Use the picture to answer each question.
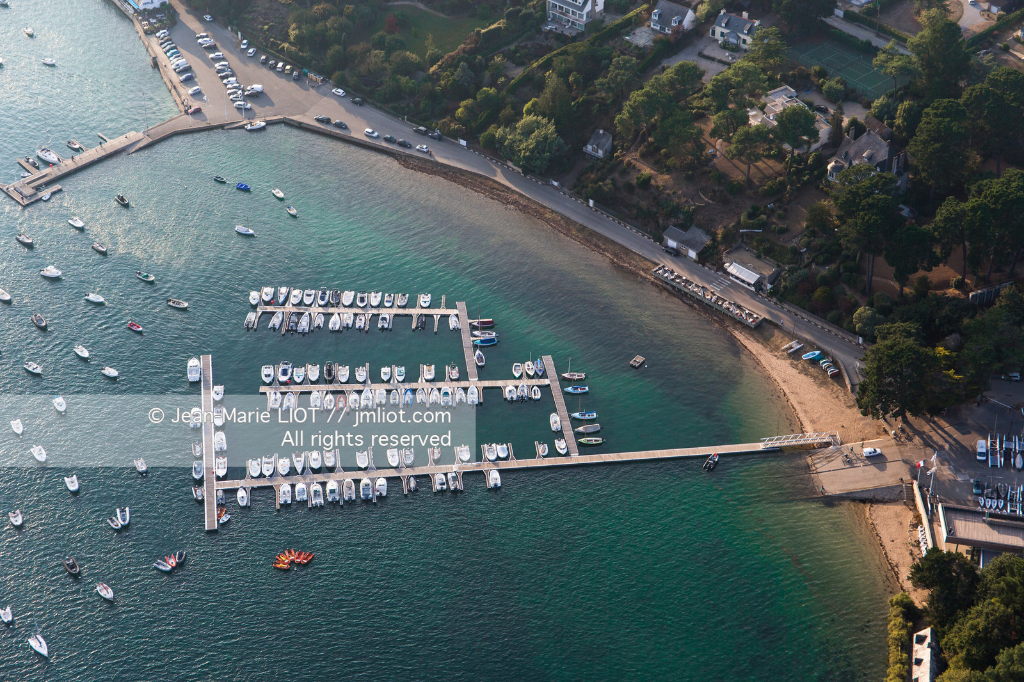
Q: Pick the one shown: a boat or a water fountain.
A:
boat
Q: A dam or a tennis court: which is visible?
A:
tennis court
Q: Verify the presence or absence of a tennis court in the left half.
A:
No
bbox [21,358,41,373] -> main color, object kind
white boat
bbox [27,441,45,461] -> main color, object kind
white boat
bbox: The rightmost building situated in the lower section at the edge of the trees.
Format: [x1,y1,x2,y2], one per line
[936,505,1024,581]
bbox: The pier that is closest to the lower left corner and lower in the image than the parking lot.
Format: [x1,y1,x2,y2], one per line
[200,355,218,531]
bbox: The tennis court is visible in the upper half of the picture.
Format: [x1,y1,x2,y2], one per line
[780,26,923,100]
